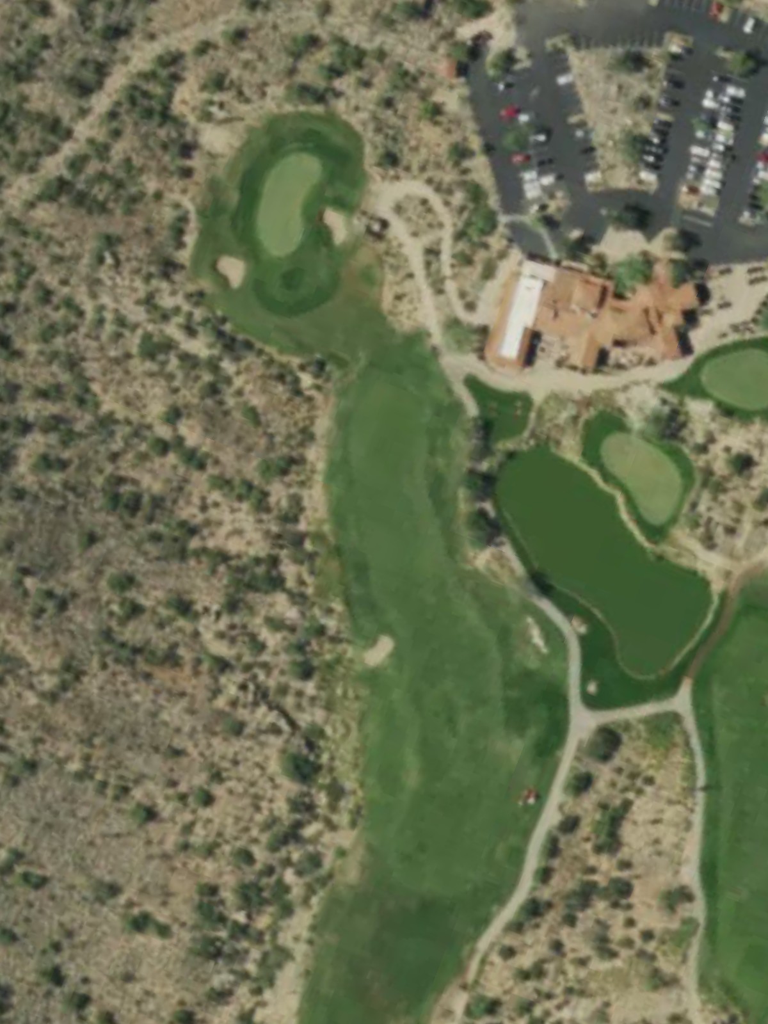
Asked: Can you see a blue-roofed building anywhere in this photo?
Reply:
No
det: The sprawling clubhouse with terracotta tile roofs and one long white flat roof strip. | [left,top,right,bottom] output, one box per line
[486,258,704,372]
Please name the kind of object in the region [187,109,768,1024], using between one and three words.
golf course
